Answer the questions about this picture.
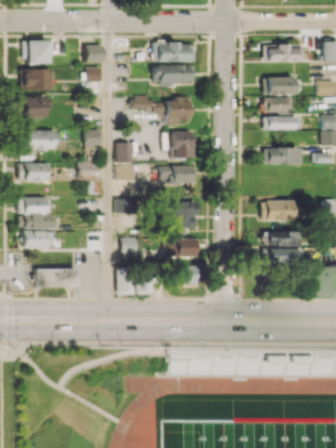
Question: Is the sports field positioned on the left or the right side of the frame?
right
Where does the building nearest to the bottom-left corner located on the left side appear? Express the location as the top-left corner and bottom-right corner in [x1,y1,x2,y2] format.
[34,268,80,288]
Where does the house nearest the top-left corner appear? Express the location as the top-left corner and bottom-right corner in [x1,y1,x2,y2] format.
[20,40,54,66]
